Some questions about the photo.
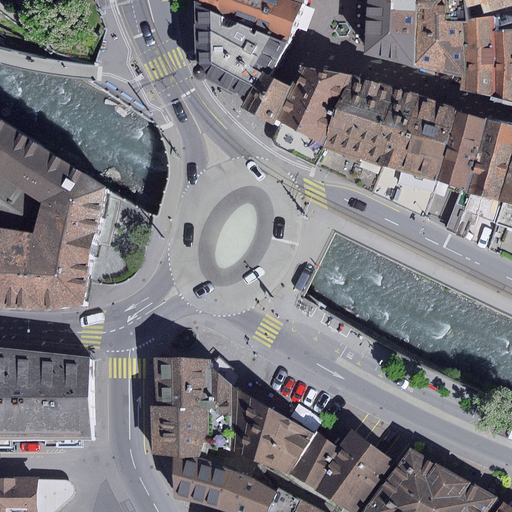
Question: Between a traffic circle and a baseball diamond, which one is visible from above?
traffic circle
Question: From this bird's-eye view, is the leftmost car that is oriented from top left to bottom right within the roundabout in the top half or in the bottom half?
top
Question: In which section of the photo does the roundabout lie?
center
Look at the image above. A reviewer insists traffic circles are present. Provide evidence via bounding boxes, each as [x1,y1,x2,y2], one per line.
[165,131,303,316]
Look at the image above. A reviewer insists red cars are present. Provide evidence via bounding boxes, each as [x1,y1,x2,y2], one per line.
[281,376,296,397]
[20,442,40,452]
[292,380,306,402]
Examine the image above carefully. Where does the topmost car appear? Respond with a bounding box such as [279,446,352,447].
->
[139,20,156,45]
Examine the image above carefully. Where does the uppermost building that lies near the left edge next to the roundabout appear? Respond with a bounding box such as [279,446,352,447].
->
[0,120,107,308]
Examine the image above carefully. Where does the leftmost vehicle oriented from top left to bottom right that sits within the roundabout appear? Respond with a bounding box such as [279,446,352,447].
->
[246,160,266,181]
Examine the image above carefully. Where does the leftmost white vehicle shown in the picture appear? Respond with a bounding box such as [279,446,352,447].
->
[80,310,106,326]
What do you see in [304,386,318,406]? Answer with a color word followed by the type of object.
white car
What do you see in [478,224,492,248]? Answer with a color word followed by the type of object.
white car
